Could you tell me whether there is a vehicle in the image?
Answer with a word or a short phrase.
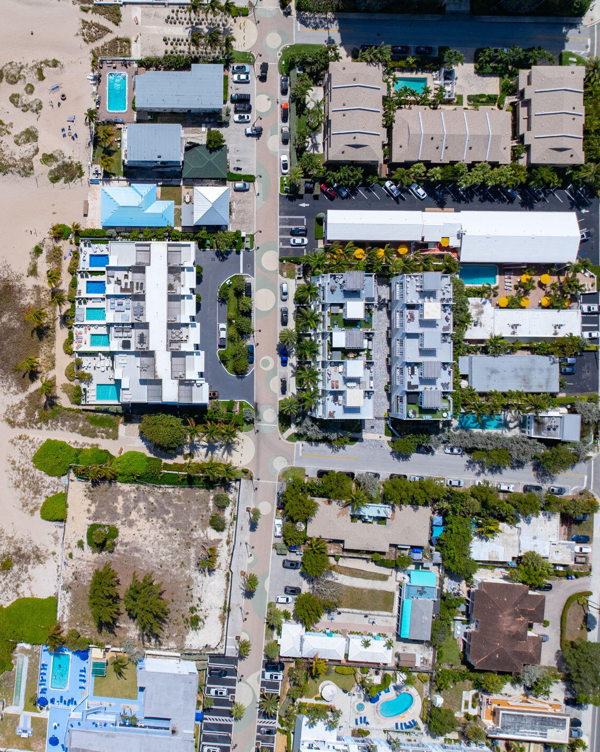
Yes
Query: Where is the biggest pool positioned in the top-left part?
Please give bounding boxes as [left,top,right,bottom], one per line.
[106,70,128,112]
